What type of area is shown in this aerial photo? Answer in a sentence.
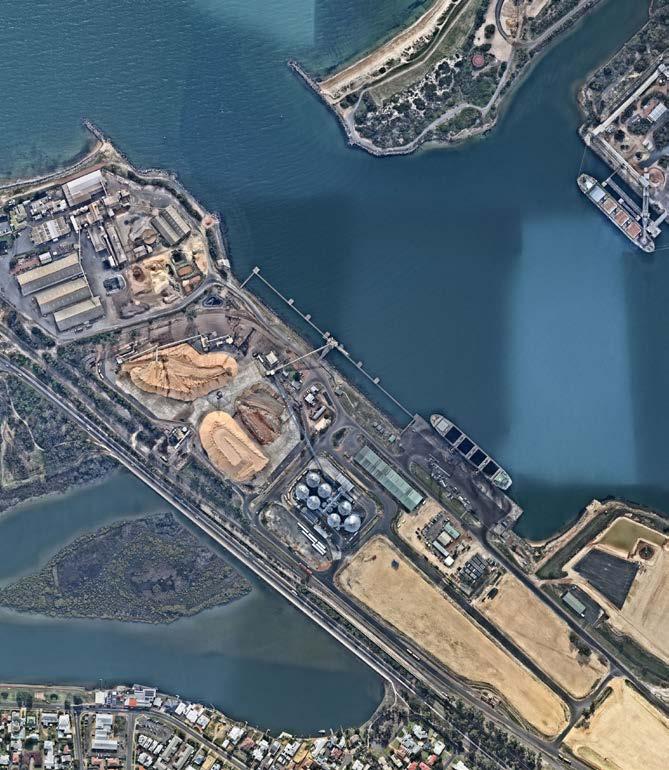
What you see here is a port.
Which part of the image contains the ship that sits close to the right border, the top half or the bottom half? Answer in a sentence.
The top half of the photo is where the ship that sits close to the right border is.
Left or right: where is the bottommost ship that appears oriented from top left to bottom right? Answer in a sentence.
You can find the bottommost ship that appears oriented from top left to bottom right on the right side of the picture.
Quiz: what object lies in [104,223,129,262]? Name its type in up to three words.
shed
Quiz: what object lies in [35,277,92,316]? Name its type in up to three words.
shed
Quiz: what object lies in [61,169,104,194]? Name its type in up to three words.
building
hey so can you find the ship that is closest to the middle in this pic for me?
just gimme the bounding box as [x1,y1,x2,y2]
[431,416,515,490]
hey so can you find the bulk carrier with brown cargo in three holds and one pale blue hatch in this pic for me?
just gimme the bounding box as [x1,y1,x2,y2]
[576,173,654,251]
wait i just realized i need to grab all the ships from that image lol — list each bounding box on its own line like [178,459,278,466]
[576,173,654,251]
[431,416,515,490]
